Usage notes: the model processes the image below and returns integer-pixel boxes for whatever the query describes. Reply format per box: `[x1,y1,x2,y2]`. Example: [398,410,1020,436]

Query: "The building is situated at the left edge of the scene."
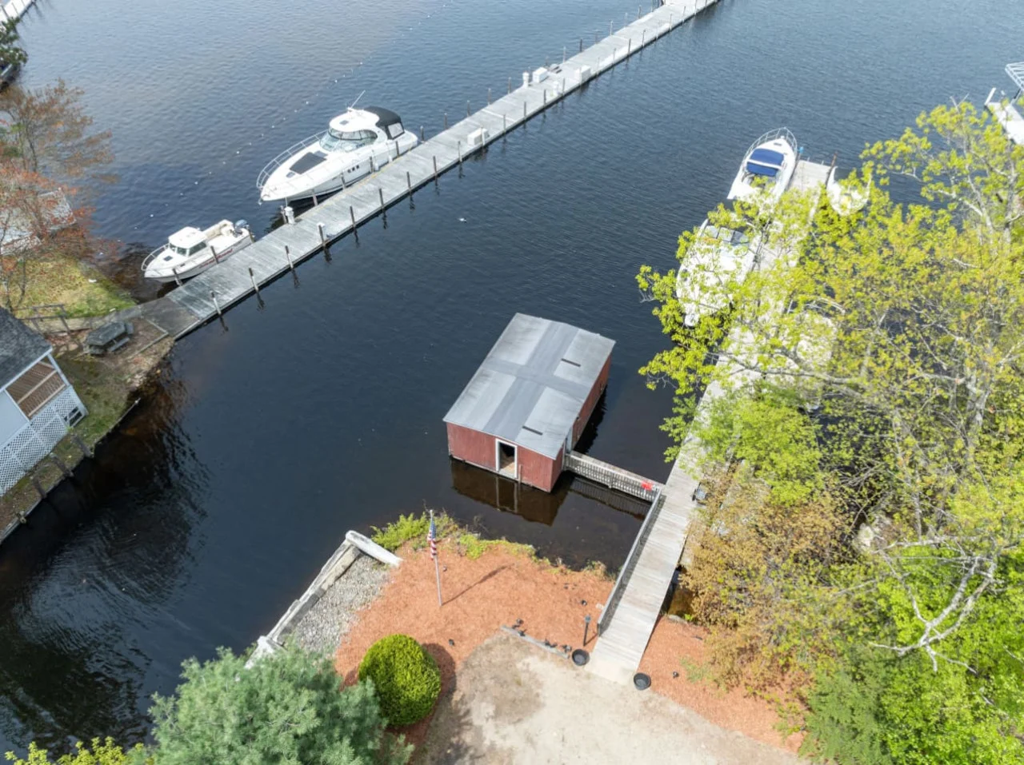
[0,310,89,496]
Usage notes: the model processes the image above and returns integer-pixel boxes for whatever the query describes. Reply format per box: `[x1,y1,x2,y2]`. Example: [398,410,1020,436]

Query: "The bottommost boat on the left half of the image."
[149,213,259,282]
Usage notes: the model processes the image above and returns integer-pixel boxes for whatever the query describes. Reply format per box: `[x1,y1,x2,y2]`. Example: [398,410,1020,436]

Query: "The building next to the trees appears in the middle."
[440,318,614,517]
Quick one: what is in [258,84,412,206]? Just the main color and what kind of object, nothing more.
white boat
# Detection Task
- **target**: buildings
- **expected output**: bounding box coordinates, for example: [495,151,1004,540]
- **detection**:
[440,318,614,517]
[0,310,89,496]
